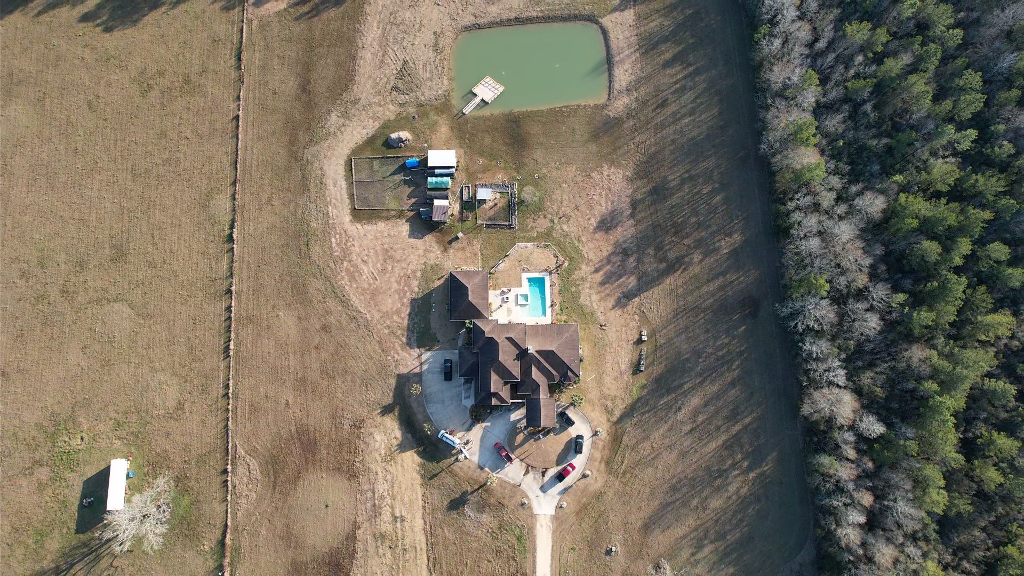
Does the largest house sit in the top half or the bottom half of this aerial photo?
bottom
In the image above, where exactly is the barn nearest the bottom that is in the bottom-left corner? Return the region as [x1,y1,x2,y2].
[106,457,133,511]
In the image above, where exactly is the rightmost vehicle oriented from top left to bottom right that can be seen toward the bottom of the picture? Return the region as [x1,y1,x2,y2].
[557,409,576,428]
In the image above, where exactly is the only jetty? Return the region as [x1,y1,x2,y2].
[463,73,501,115]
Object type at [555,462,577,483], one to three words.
truck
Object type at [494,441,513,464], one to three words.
vehicle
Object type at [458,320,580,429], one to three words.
house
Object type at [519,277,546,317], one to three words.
swimming pool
